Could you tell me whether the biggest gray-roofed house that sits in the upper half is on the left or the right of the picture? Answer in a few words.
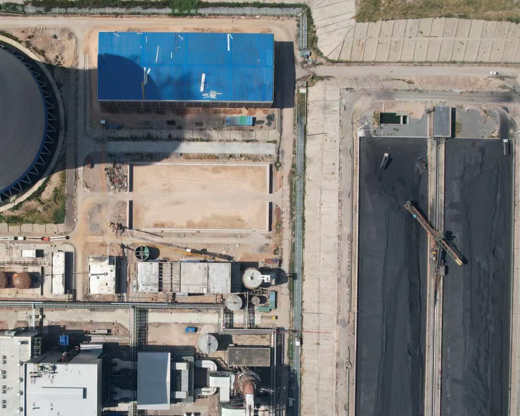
right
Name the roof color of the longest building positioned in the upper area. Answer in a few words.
blue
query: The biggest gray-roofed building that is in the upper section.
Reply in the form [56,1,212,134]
[427,107,451,138]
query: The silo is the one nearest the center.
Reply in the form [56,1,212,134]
[240,268,278,289]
